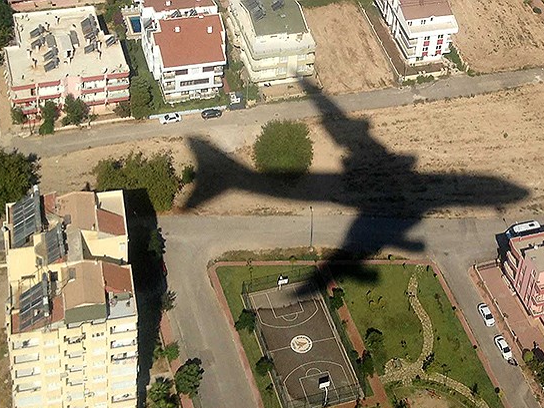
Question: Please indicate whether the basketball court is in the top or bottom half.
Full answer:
The basketball court sits in the bottom half of the picture.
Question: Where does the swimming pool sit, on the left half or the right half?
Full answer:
The swimming pool appears in the left half of the scene.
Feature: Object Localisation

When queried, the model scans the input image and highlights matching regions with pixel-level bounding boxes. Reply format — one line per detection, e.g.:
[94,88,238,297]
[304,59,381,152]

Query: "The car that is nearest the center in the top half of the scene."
[199,108,225,121]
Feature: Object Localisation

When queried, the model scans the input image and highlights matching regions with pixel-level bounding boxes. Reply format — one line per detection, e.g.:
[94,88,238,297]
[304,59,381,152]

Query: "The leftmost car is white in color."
[158,111,184,125]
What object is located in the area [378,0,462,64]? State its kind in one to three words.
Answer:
house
